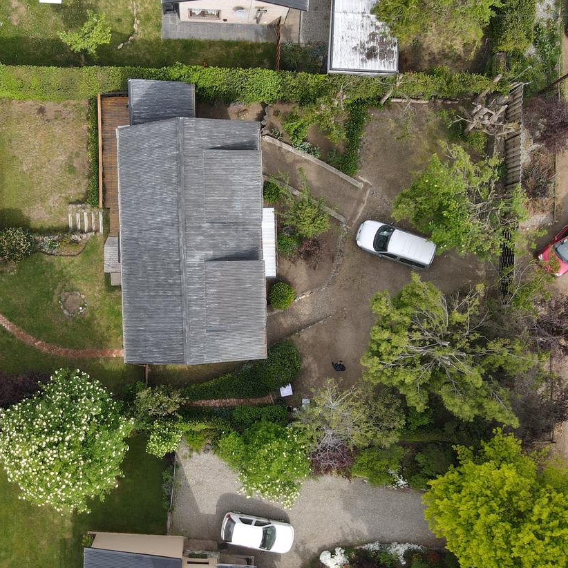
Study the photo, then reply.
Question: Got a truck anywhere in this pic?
No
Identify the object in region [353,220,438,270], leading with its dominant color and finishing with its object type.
white car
